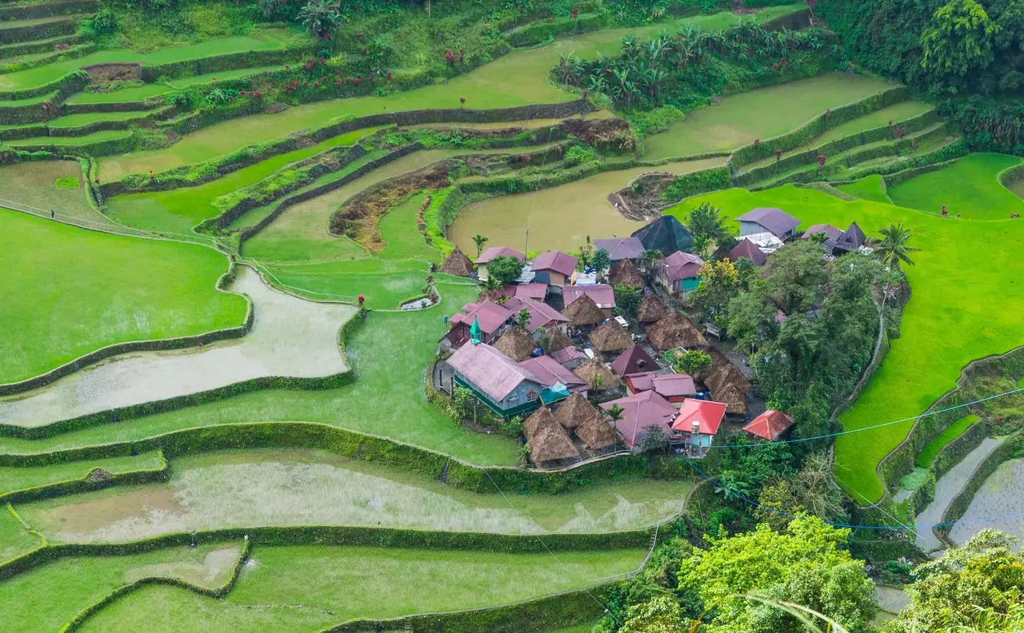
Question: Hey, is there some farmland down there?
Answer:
Yes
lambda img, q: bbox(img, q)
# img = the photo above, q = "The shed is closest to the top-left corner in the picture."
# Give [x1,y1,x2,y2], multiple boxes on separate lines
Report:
[435,244,477,280]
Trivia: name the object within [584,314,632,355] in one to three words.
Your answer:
shed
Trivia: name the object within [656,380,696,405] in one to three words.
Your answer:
house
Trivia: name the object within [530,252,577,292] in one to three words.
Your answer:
house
